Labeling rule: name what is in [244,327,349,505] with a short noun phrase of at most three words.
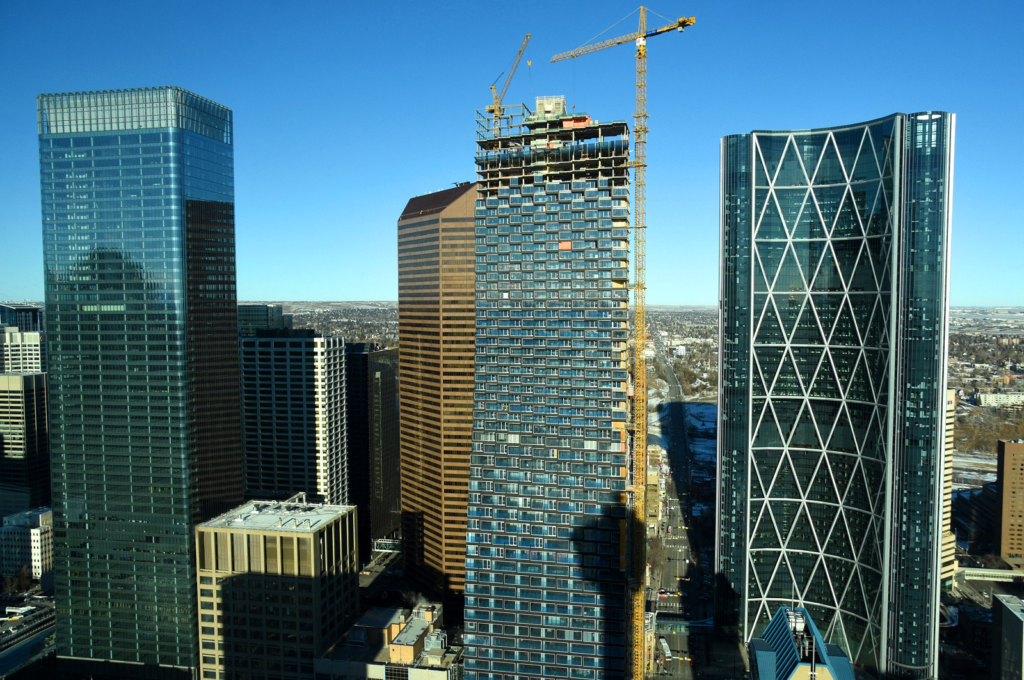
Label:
building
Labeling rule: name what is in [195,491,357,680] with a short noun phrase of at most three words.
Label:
building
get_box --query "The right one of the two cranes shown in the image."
[553,4,698,680]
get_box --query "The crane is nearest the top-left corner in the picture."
[486,28,533,151]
